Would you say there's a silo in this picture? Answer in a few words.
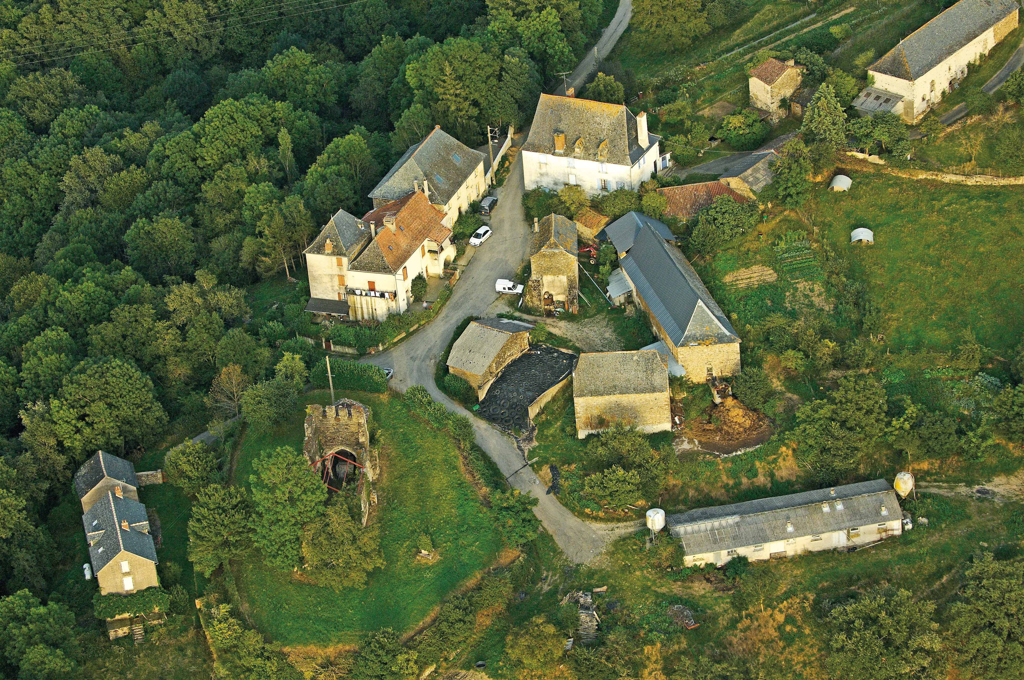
Yes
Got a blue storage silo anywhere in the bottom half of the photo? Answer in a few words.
No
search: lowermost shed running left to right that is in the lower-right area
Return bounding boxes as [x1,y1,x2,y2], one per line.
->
[671,478,903,571]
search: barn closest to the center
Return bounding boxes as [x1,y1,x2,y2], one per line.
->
[446,317,534,393]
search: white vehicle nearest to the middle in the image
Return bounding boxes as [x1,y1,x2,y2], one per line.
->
[495,277,526,295]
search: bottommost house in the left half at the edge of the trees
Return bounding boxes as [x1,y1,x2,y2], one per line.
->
[86,483,161,602]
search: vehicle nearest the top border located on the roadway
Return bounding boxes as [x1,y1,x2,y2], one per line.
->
[478,197,499,215]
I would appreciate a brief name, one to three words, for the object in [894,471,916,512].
silo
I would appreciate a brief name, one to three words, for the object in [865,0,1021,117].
barn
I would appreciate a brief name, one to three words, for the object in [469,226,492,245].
car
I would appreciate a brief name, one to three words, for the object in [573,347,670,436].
barn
